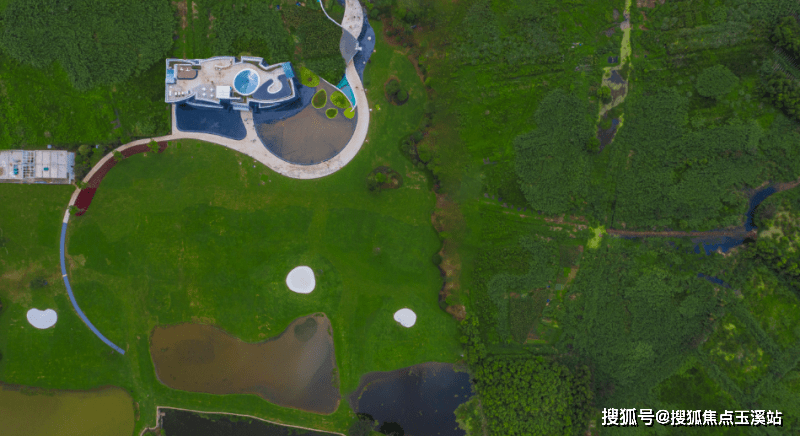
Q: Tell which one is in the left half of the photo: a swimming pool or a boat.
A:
swimming pool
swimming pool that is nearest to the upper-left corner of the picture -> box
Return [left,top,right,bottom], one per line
[177,102,246,139]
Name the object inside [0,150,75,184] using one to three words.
building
